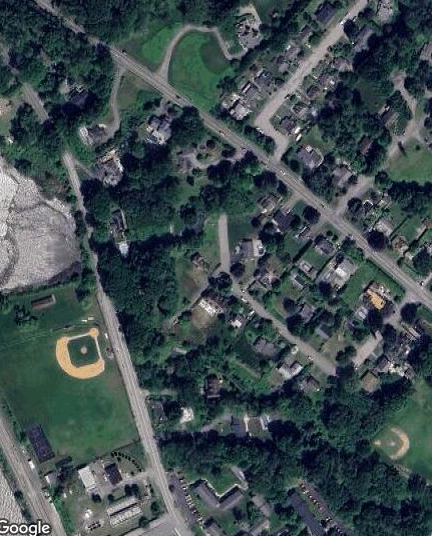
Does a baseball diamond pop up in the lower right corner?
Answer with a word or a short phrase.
Yes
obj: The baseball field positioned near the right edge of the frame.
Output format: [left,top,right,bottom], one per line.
[374,427,410,461]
